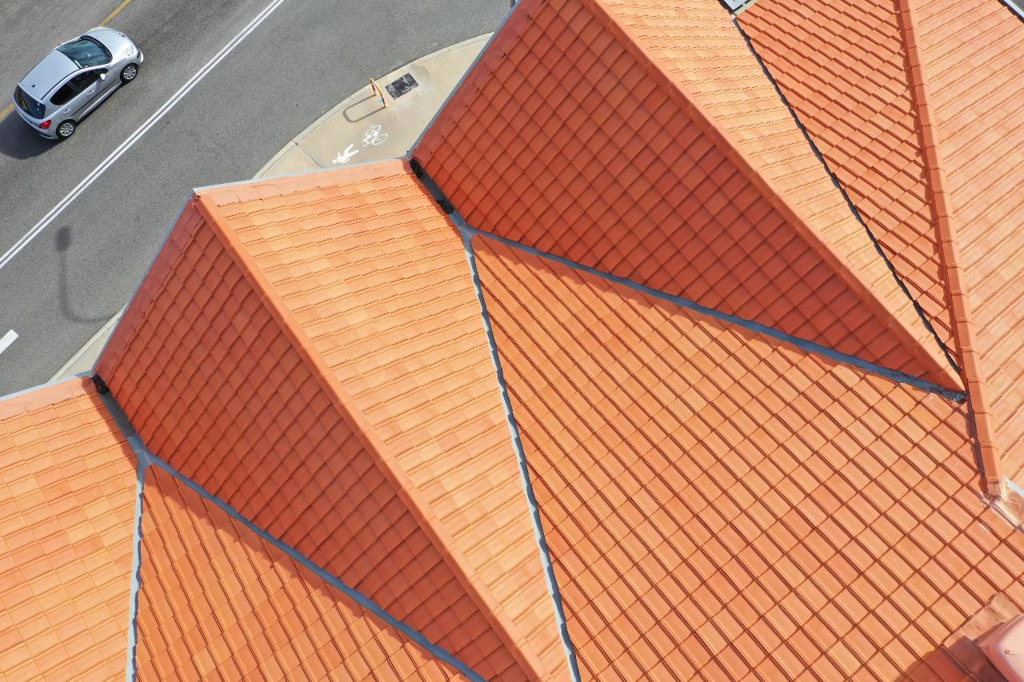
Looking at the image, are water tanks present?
No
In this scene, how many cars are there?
1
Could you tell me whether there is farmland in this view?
No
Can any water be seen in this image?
No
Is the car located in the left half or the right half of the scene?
left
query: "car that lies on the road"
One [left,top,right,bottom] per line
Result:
[10,25,142,137]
